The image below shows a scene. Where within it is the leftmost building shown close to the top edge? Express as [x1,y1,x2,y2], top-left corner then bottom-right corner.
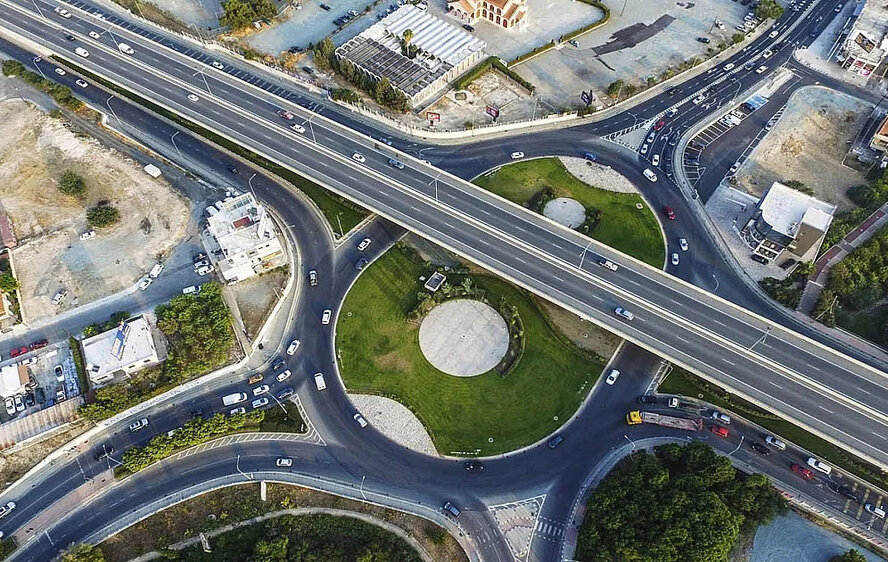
[336,5,486,111]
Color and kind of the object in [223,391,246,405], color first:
white vehicle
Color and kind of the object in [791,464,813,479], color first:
red car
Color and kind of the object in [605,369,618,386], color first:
white vehicle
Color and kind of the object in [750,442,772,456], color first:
black vehicle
